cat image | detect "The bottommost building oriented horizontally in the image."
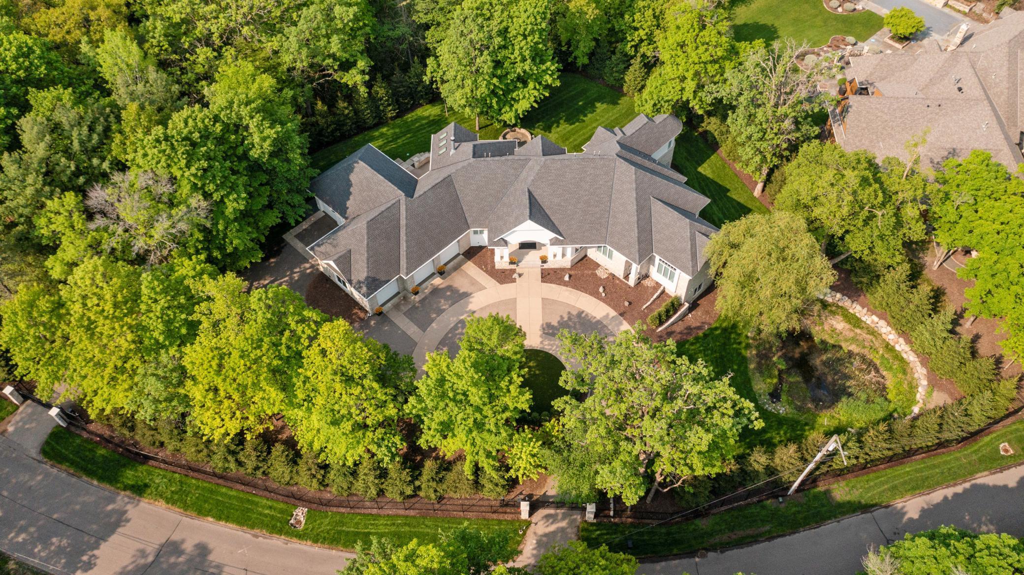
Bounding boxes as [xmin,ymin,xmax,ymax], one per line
[306,114,735,315]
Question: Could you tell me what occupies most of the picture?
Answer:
trees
